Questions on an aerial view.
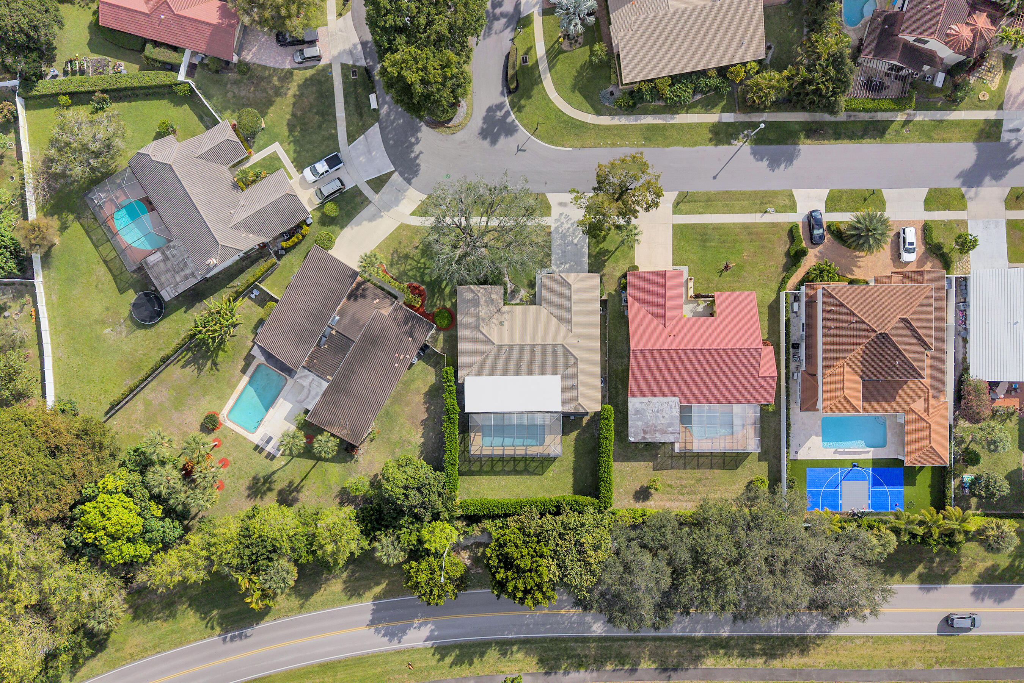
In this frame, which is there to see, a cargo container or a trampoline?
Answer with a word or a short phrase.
trampoline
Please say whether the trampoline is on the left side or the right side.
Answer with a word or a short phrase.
left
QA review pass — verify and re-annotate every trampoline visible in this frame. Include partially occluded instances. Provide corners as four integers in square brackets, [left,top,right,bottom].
[125,290,166,324]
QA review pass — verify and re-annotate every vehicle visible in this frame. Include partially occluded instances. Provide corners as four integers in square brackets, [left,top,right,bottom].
[301,151,346,181]
[896,226,916,262]
[806,210,825,245]
[944,612,980,630]
[276,30,319,48]
[292,47,324,65]
[311,177,347,204]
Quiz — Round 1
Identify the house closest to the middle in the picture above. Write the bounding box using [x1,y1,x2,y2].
[457,273,601,412]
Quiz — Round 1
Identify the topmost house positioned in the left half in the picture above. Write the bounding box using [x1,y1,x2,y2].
[98,0,250,64]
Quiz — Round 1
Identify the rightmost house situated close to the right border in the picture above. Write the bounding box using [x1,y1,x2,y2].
[959,269,1024,381]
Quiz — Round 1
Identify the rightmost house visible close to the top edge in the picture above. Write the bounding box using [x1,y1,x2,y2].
[853,0,999,77]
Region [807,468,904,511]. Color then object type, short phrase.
blue sports court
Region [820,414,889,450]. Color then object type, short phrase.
blue swimming pool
